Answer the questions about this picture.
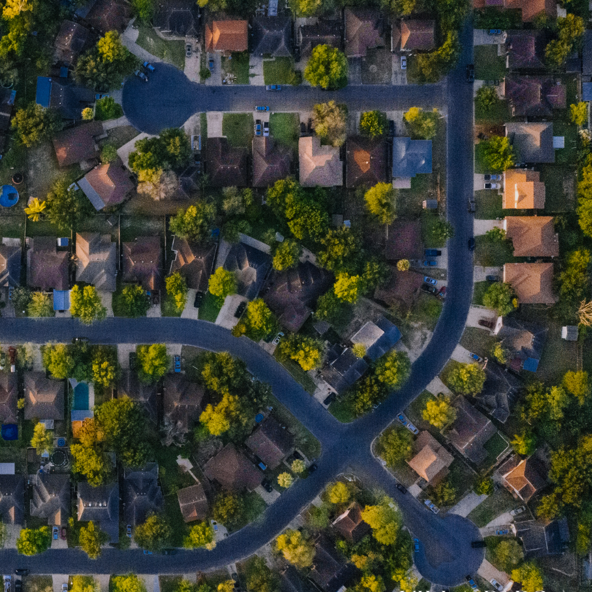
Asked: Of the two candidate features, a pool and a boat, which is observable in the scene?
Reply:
pool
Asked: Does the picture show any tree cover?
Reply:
Yes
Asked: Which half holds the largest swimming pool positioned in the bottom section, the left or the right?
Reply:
left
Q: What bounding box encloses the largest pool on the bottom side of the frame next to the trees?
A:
[69,379,94,411]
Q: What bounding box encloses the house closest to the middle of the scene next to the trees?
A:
[263,269,330,321]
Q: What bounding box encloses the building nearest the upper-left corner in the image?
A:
[51,18,90,63]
